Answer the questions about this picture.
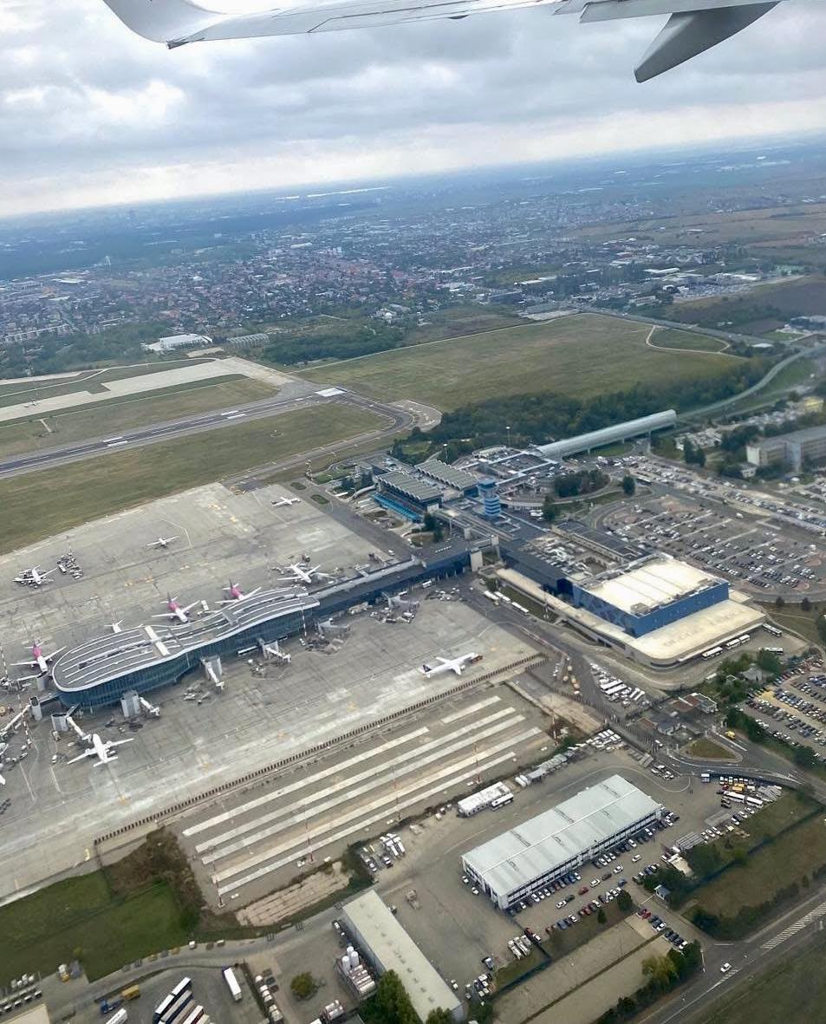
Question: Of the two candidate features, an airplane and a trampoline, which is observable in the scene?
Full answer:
It is an airplane that can be seen here.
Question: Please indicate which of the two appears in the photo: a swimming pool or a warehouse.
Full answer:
There is a warehouse in the scene.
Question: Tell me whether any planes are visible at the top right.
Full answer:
No, no plane appears at the top right.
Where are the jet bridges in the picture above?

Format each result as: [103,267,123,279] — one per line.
[312,618,349,639]
[382,594,419,610]
[16,673,57,694]
[118,693,161,721]
[263,637,292,664]
[51,706,93,744]
[206,658,226,692]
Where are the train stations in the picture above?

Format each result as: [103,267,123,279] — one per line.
[532,417,683,468]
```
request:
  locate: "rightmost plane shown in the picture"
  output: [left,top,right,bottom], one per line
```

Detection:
[419,647,479,680]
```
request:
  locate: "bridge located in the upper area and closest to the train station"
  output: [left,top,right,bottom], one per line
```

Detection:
[678,344,826,424]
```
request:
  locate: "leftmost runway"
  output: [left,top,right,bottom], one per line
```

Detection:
[0,399,285,474]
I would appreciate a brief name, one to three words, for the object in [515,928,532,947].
vehicle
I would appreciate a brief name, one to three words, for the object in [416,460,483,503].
building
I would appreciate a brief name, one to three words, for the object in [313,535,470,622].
building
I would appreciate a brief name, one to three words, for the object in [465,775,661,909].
warehouse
